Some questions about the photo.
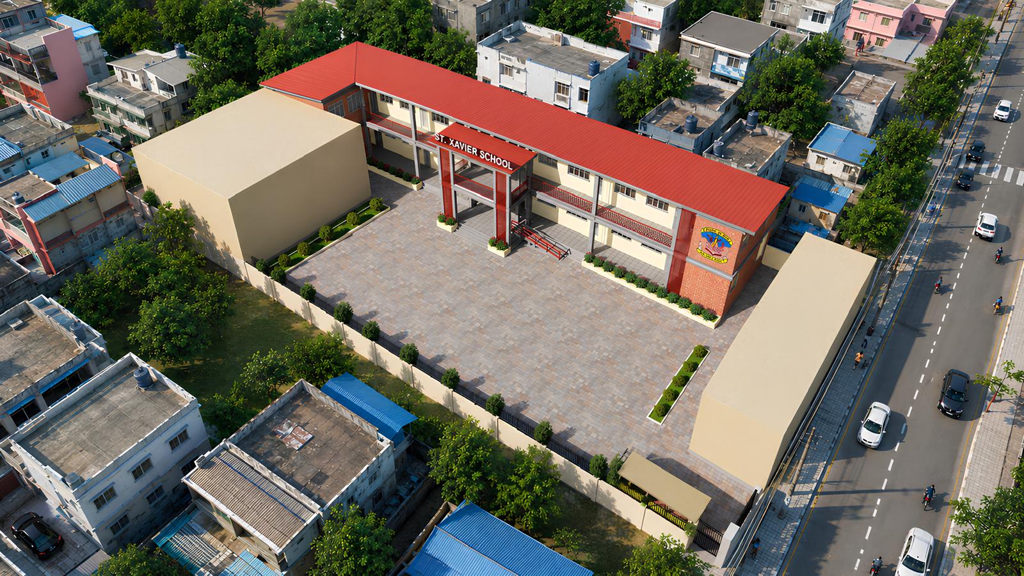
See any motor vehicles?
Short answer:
Yes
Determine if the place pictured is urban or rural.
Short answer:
urban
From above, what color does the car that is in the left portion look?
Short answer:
black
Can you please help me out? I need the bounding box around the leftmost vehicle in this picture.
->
[6,502,69,556]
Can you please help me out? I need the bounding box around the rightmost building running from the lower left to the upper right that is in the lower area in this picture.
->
[685,233,877,485]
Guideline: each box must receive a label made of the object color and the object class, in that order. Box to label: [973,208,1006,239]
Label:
white car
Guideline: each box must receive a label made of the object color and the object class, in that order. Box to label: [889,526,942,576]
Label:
white car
